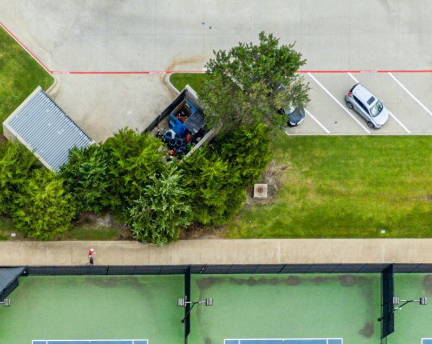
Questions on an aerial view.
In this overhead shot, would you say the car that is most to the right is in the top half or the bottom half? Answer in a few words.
top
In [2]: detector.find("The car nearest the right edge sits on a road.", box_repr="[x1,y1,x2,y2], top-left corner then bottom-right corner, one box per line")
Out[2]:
[344,82,392,129]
